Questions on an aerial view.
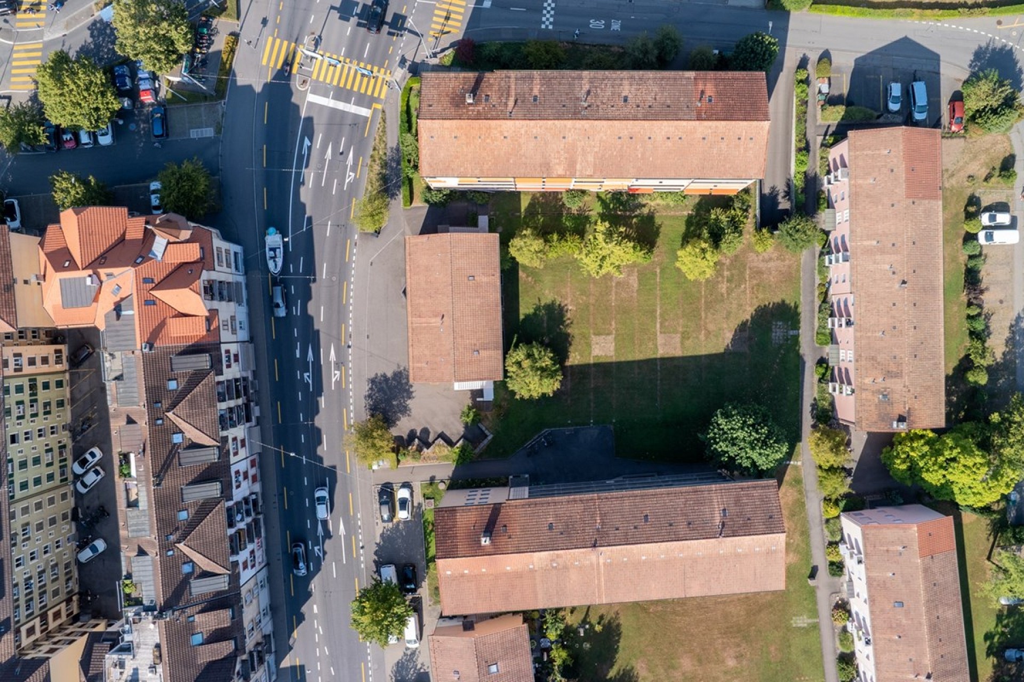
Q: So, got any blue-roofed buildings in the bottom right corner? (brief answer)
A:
No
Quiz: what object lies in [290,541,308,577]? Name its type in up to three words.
car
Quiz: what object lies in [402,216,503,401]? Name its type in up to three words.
building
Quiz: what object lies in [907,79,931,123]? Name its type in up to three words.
vehicle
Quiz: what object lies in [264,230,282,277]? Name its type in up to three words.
boat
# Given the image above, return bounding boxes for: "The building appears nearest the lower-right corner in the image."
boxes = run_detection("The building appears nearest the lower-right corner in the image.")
[837,500,970,682]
